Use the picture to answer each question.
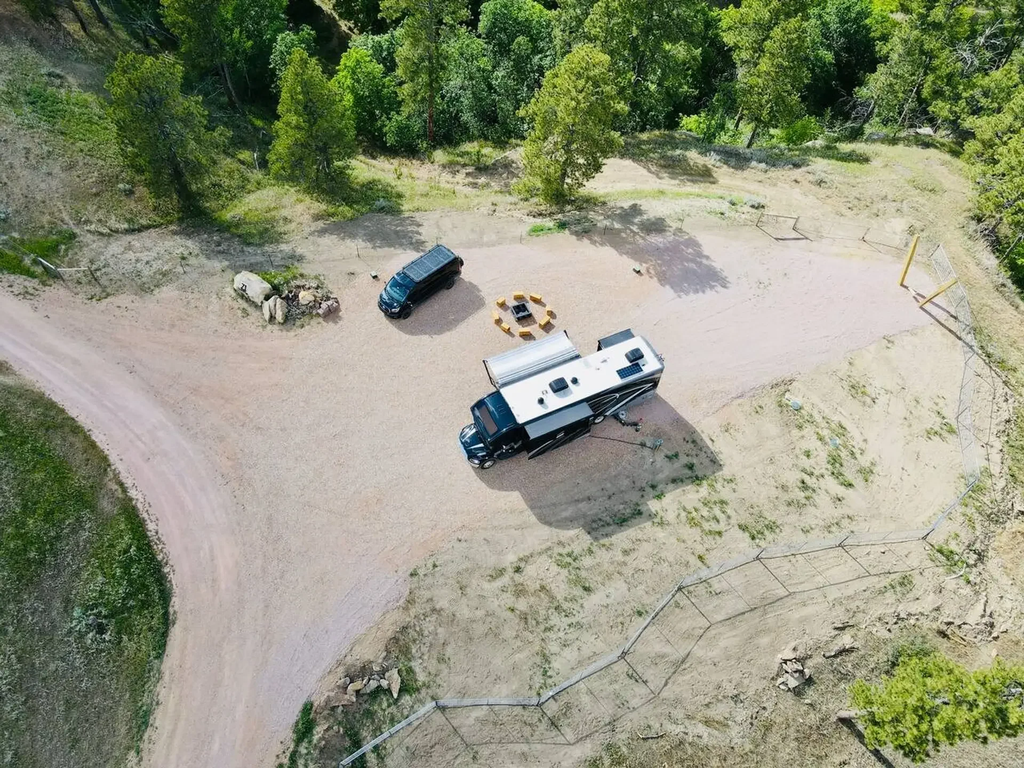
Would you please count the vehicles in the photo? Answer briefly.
2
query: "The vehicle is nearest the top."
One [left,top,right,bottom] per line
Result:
[372,236,465,318]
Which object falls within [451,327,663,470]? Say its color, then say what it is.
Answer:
white camper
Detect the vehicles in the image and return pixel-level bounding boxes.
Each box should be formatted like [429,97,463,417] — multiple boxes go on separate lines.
[372,236,465,318]
[451,327,663,470]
